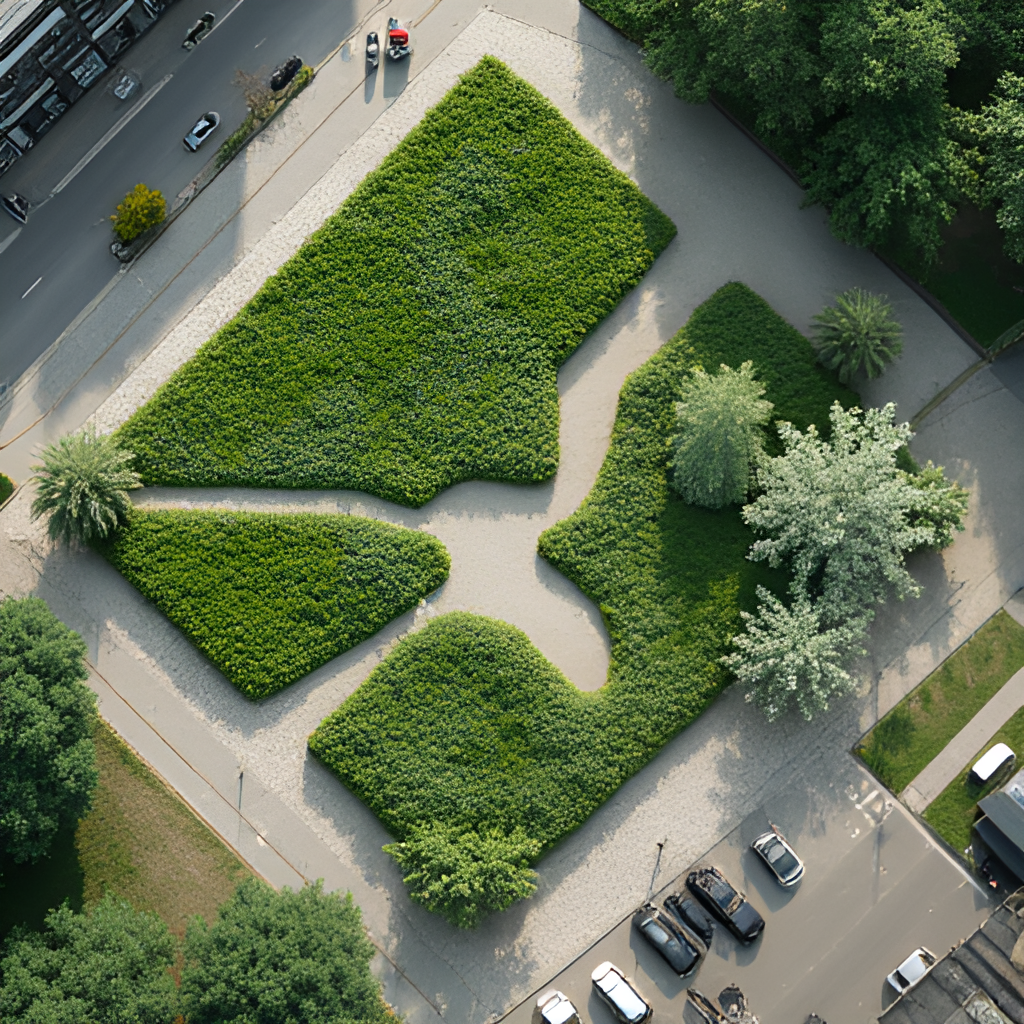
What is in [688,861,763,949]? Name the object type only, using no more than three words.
car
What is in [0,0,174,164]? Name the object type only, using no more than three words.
building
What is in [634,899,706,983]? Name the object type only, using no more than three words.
car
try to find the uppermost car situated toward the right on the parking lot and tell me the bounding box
[750,826,806,891]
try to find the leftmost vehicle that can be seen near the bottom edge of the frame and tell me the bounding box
[543,986,593,1024]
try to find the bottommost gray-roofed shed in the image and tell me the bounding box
[864,883,1024,1024]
